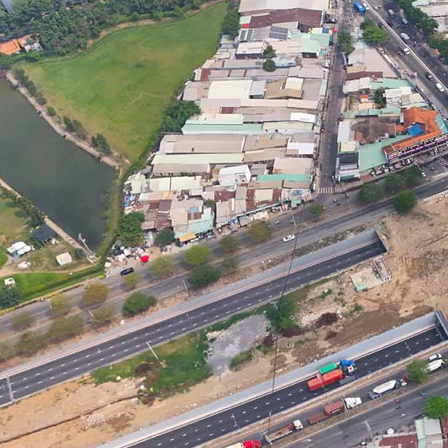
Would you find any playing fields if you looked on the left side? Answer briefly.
Yes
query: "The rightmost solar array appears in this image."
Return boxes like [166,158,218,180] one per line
[270,26,289,40]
